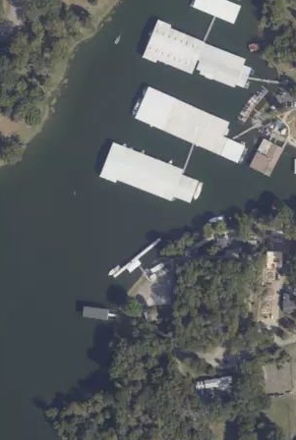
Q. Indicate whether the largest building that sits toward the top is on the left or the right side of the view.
right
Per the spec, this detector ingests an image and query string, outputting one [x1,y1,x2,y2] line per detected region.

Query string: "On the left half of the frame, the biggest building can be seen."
[82,306,108,320]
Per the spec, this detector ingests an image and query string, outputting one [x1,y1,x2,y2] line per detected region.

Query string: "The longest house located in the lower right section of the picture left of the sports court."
[196,374,235,390]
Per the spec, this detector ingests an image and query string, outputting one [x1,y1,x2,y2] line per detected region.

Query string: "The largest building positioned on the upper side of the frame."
[250,138,283,176]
